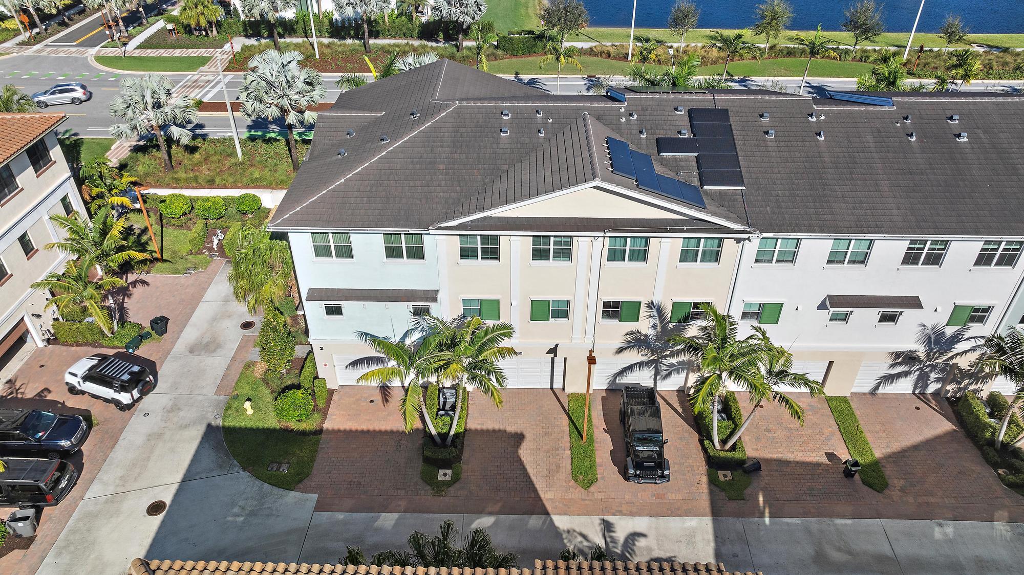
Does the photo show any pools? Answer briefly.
No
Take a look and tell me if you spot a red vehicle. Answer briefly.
No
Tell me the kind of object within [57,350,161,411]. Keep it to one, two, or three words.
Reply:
car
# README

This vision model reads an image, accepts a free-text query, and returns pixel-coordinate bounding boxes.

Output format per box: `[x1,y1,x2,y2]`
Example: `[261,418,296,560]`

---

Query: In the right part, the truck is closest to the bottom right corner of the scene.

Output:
[617,380,673,484]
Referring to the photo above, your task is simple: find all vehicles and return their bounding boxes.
[617,380,673,484]
[0,400,89,453]
[0,444,77,508]
[26,78,92,109]
[57,350,161,411]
